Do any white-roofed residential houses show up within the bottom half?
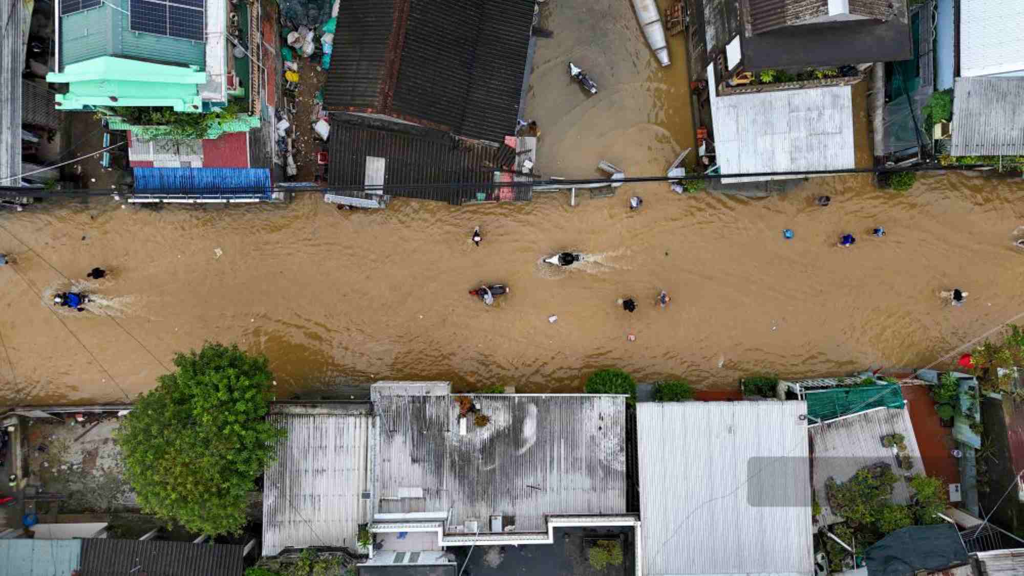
Yes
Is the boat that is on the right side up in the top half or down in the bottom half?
top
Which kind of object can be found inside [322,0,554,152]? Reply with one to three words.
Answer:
house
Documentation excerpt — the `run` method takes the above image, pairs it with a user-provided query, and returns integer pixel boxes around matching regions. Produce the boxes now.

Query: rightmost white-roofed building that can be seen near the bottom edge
[629,400,814,576]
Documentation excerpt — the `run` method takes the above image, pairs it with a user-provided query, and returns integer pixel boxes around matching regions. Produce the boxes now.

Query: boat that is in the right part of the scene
[635,0,672,67]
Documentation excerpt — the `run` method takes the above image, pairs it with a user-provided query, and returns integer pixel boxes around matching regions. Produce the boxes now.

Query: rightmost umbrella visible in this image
[951,356,972,369]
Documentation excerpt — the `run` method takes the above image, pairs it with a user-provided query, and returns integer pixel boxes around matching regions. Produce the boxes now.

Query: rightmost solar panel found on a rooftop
[129,0,205,43]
